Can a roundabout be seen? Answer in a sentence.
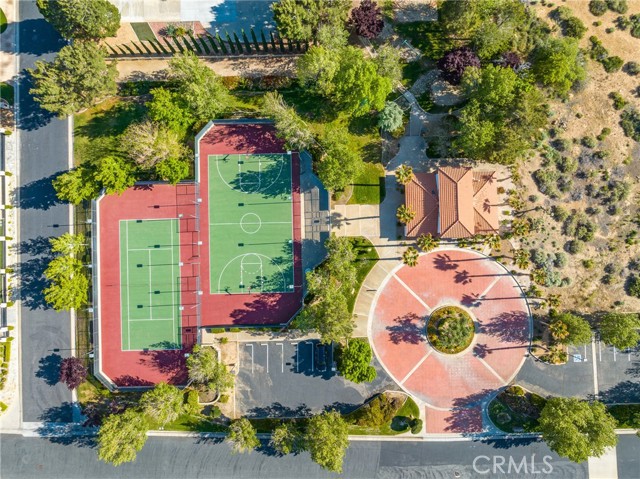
Yes, a roundabout can be made out from above.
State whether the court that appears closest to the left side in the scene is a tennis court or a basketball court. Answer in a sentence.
The court that appears closest to the left side appears to be a tennis court.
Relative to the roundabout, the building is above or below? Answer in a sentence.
Looking at the scene, the building is located above the roundabout.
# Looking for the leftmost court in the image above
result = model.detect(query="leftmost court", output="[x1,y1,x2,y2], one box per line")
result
[98,181,201,388]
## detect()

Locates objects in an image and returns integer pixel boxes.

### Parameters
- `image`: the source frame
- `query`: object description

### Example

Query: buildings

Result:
[404,166,501,238]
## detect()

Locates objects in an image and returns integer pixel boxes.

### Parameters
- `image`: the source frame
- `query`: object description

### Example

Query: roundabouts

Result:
[368,247,532,411]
